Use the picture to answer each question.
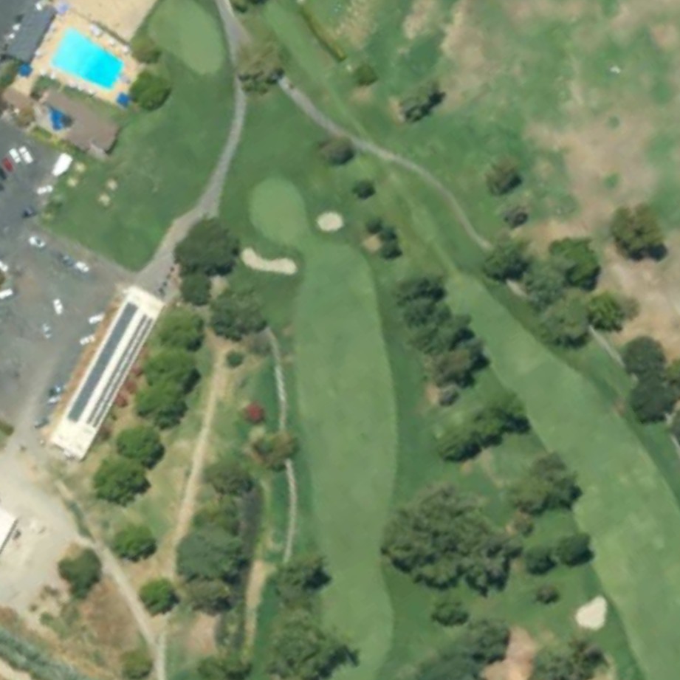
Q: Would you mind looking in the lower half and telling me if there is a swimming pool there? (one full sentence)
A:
No, I can find no swimming pool in the lower half.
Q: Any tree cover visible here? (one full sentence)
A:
Yes, there is tree cover in the image.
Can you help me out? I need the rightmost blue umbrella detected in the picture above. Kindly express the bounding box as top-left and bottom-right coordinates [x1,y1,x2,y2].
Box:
[114,91,130,107]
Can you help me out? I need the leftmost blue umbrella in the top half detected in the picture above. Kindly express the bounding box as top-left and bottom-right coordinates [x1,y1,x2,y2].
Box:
[16,61,32,77]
